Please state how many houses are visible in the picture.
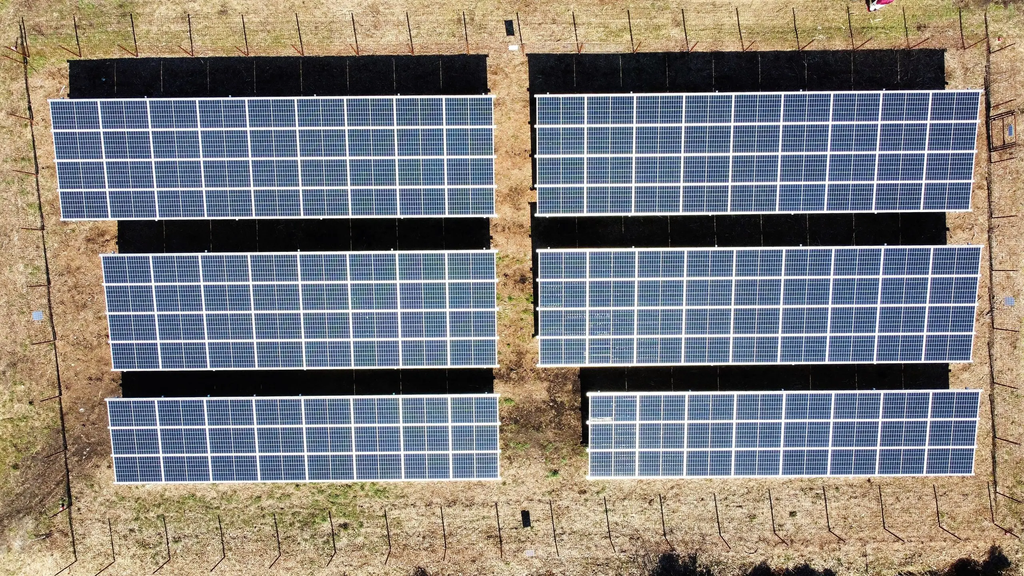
none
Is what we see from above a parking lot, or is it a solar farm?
solar farm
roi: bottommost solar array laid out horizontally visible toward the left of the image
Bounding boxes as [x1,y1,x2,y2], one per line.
[105,390,501,485]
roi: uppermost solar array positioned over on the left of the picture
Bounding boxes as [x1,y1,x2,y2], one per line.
[47,92,497,222]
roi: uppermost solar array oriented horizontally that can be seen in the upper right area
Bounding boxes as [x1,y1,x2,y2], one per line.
[534,87,983,218]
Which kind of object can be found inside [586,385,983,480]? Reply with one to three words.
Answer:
solar array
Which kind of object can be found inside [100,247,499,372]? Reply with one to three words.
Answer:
solar array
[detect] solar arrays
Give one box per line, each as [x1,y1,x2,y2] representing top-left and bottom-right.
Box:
[537,241,984,368]
[586,385,983,480]
[47,92,497,222]
[534,87,983,218]
[105,390,501,485]
[100,247,499,372]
